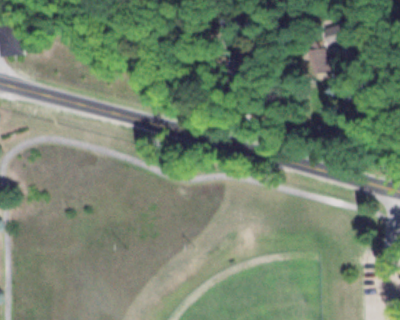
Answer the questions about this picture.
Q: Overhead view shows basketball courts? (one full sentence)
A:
No, I find no basketball court anywhere in the image.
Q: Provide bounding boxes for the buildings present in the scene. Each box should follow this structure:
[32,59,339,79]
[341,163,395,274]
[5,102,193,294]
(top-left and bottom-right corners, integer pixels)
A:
[324,24,341,36]
[308,50,333,74]
[0,26,24,58]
